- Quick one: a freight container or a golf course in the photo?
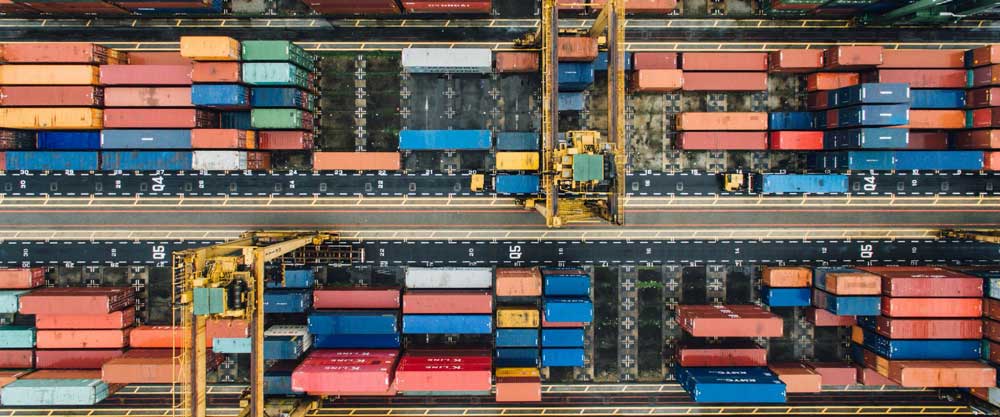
freight container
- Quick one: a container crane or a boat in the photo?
container crane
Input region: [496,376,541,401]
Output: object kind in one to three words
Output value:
shipping container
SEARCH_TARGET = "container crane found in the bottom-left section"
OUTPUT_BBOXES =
[173,229,349,417]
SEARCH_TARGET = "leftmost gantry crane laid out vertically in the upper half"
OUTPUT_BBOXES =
[509,0,622,229]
